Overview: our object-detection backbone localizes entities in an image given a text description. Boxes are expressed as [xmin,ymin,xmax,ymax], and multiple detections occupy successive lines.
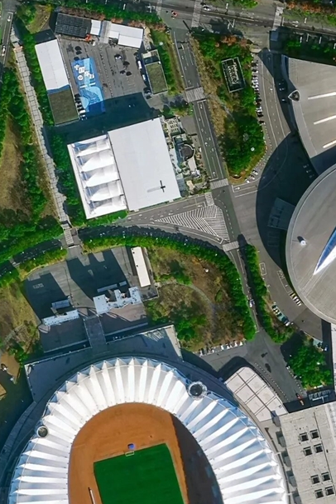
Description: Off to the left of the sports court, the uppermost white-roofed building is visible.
[33,38,69,95]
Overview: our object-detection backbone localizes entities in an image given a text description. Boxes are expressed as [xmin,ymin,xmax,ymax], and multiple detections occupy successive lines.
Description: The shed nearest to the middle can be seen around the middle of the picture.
[131,248,151,286]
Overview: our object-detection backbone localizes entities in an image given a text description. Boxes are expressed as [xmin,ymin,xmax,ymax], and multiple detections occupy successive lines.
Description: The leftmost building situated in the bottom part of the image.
[41,299,80,325]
